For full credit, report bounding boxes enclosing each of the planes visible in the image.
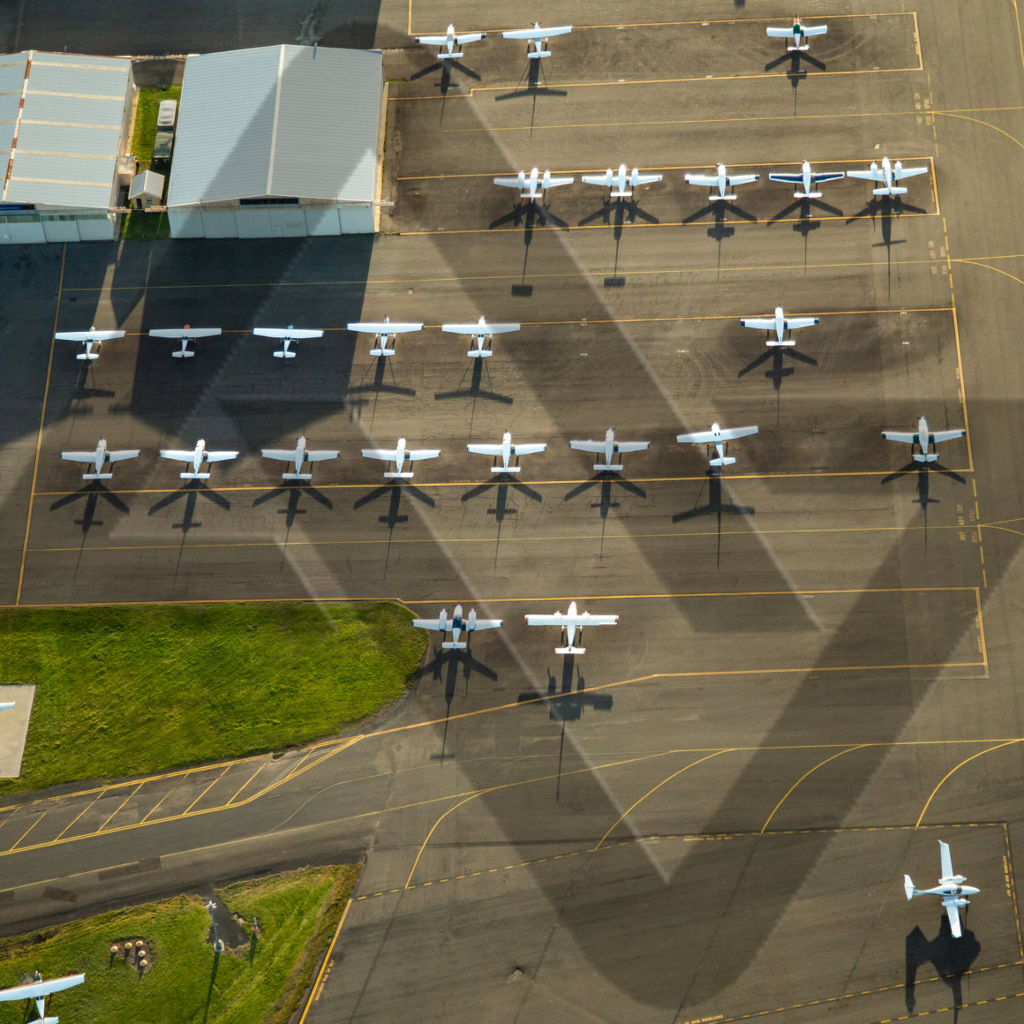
[766,18,827,48]
[502,24,572,56]
[261,434,339,478]
[160,435,239,479]
[582,164,662,202]
[55,325,125,361]
[415,23,486,58]
[412,605,502,653]
[570,426,649,470]
[254,322,324,359]
[468,428,546,473]
[442,316,520,356]
[685,162,760,200]
[740,303,819,345]
[0,969,85,1024]
[847,156,928,196]
[61,434,140,479]
[525,601,618,654]
[494,167,574,205]
[676,422,759,465]
[0,703,15,713]
[910,839,982,936]
[149,320,222,359]
[882,415,966,461]
[361,434,440,478]
[769,160,845,197]
[347,314,423,355]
